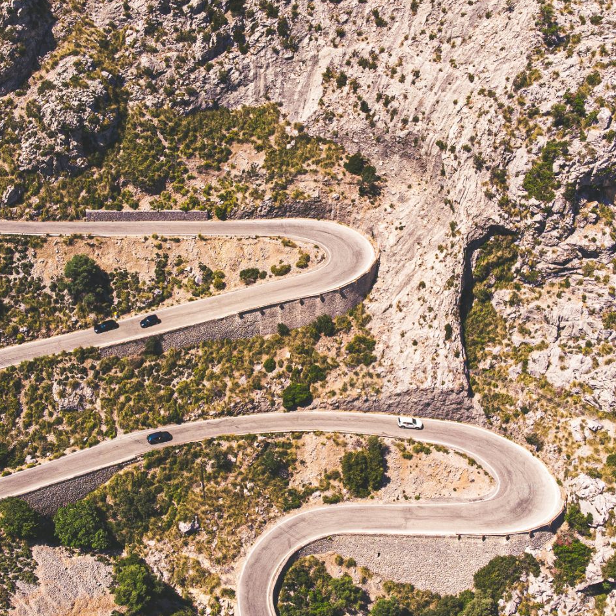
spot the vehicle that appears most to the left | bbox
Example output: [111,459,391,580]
[93,320,119,336]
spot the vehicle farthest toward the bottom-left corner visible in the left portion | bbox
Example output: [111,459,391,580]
[147,432,174,448]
